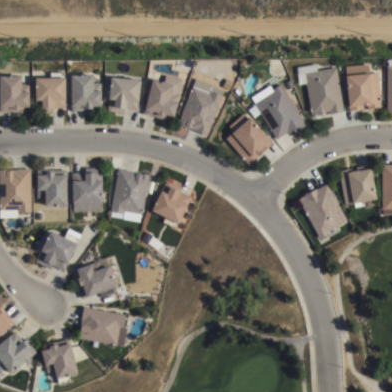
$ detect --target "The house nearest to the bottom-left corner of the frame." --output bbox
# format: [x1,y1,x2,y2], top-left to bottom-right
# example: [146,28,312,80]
[0,331,34,375]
